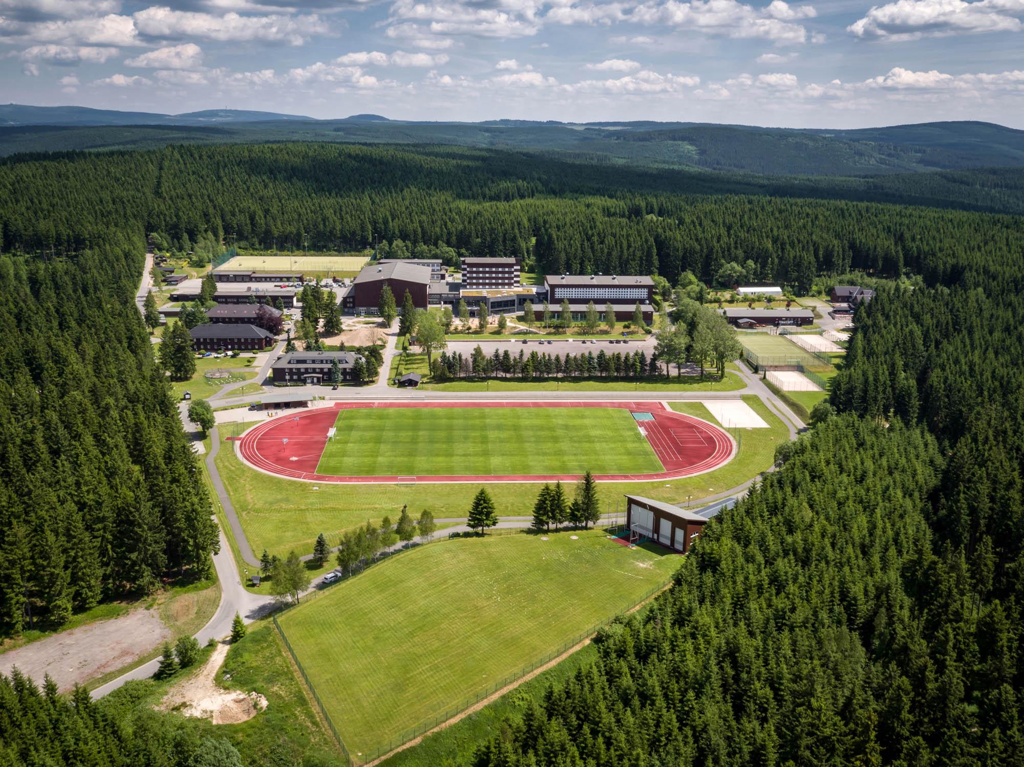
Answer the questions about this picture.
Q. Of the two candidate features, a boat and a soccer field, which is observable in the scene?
soccer field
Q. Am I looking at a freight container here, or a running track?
running track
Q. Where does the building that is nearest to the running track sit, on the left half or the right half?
left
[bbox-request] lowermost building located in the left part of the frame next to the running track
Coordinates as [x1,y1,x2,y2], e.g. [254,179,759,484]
[259,388,313,410]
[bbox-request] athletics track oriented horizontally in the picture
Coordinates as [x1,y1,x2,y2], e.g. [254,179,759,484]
[240,406,731,482]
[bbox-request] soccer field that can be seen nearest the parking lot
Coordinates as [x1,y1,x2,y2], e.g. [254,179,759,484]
[316,408,665,475]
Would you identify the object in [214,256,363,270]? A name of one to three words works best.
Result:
sports field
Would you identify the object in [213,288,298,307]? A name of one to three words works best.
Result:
building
